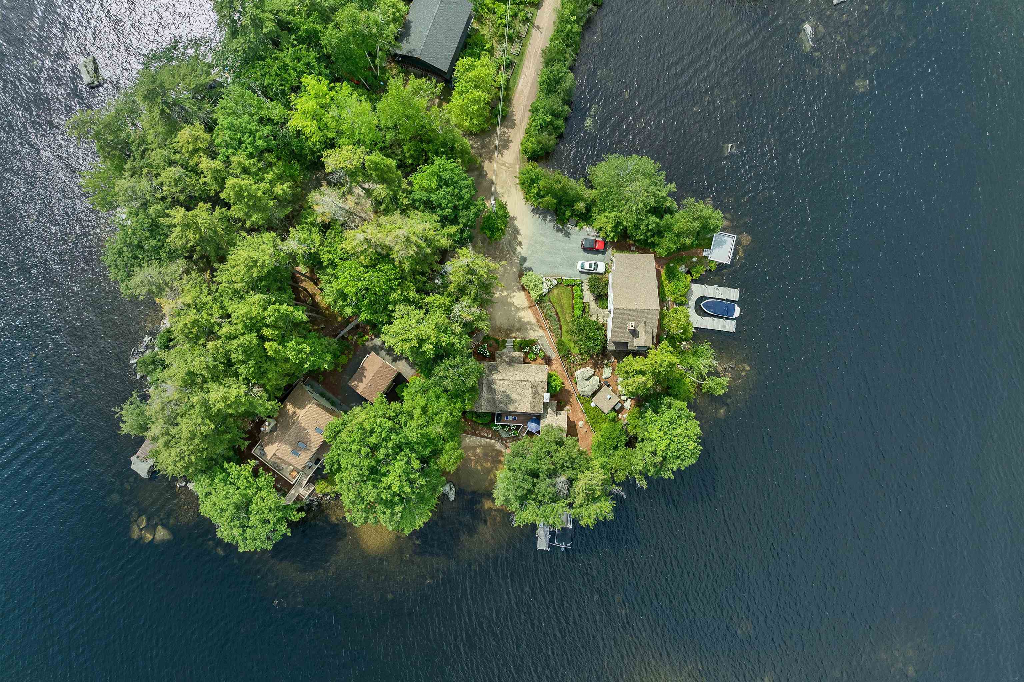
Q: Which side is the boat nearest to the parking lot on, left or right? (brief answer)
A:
right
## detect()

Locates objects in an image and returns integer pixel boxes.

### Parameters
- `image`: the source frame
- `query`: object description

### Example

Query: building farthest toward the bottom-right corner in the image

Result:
[591,385,619,414]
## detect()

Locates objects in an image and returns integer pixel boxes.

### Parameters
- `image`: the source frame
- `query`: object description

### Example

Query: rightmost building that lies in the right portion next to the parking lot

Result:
[606,253,660,350]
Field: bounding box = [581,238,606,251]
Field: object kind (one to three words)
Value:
vehicle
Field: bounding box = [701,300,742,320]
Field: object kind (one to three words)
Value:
boat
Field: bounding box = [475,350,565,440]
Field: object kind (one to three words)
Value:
house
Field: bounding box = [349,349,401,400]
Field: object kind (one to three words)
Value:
building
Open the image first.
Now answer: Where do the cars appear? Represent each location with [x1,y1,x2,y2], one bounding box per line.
[577,261,605,274]
[581,238,606,251]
